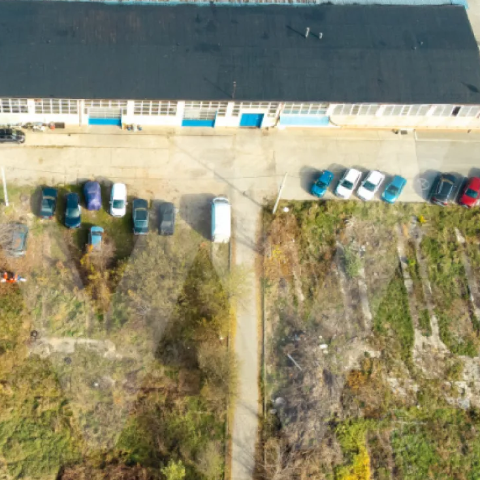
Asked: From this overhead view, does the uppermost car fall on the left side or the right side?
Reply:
left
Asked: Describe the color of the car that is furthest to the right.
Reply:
red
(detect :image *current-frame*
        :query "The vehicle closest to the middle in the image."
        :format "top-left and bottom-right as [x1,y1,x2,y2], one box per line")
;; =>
[209,194,233,247]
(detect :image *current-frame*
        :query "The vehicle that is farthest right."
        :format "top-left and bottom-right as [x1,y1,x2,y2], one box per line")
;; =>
[457,175,480,209]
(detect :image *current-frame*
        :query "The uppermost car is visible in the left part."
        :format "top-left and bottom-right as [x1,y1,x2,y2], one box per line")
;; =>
[0,126,26,146]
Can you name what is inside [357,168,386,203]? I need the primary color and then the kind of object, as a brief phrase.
white car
